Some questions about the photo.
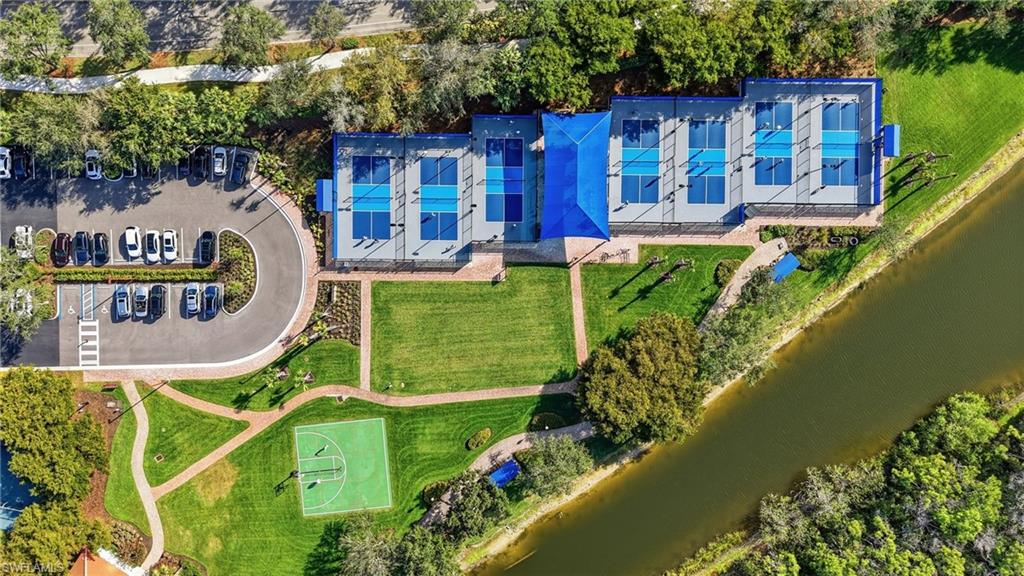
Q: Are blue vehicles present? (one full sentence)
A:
Yes, the picture does show a blue vehicle.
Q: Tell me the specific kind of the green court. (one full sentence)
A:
I'd identify the green court as a basketball court.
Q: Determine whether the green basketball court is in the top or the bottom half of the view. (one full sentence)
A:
You can find the green basketball court in the bottom half.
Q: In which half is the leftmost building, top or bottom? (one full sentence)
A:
Seen from above, the leftmost building lies in the bottom half of the view.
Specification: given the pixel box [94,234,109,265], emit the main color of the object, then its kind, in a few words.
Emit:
black car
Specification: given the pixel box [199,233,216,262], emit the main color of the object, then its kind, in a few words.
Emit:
black car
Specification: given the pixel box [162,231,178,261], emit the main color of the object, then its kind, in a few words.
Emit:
white car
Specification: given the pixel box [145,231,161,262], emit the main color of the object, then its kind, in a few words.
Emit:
white car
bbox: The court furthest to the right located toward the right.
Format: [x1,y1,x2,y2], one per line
[810,82,875,204]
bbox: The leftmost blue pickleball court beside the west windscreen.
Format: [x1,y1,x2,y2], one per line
[337,137,403,260]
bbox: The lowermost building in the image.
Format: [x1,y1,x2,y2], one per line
[66,543,136,576]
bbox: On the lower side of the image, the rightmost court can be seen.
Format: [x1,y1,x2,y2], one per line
[294,418,392,517]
